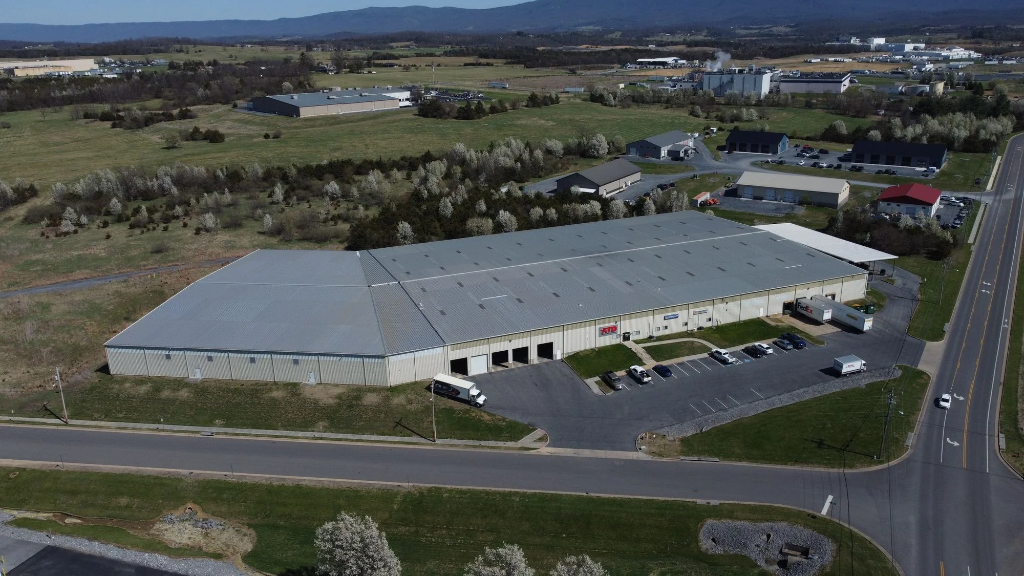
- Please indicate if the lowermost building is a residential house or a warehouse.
warehouse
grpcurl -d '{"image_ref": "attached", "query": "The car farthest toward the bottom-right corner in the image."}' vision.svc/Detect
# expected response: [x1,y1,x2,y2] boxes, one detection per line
[938,391,952,409]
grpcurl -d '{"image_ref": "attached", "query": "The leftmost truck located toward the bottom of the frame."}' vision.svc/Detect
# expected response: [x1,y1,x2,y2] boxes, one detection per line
[431,378,485,411]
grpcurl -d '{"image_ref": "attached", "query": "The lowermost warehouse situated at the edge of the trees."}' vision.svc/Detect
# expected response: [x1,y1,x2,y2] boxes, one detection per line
[104,210,869,386]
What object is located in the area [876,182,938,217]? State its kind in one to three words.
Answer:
shed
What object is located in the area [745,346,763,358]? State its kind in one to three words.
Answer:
vehicle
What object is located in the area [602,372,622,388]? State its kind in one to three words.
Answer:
vehicle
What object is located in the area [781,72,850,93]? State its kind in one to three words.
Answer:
building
